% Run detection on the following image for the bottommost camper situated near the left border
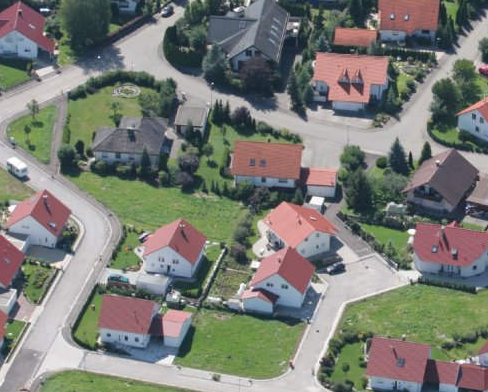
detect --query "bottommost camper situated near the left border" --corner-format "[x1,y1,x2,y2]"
[4,155,30,178]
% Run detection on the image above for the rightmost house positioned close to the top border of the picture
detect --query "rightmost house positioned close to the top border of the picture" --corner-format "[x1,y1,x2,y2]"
[378,0,440,41]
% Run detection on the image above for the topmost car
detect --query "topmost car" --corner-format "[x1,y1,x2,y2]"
[159,5,176,17]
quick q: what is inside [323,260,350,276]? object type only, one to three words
car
